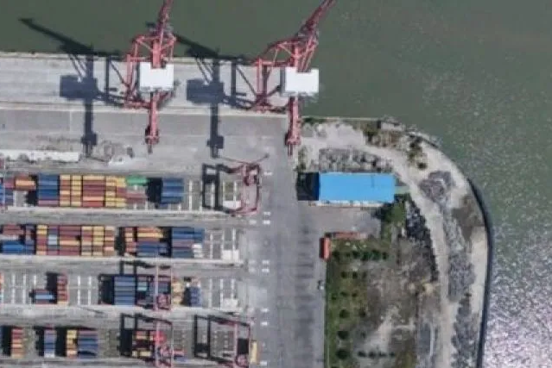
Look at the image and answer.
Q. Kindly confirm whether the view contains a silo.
No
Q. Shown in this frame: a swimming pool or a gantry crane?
gantry crane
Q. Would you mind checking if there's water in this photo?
Yes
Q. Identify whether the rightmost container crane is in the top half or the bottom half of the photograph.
top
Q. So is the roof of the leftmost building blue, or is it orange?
blue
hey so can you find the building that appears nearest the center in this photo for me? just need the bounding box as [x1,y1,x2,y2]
[312,173,395,211]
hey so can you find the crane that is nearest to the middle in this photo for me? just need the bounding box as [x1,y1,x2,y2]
[226,161,261,217]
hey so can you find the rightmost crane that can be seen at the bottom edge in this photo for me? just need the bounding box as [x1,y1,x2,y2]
[219,317,254,368]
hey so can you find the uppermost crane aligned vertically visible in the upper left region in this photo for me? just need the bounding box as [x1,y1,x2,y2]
[118,0,177,163]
